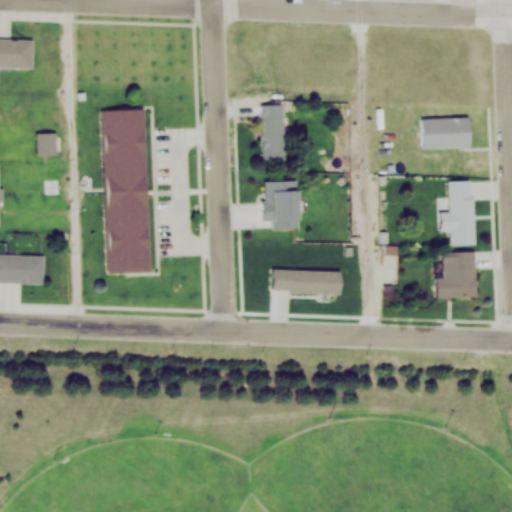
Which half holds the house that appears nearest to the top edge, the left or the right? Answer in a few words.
left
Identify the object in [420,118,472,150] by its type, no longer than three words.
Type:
house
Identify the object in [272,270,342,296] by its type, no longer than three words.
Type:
house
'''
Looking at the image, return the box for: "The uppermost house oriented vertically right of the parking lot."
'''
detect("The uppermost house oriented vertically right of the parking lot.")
[260,105,286,159]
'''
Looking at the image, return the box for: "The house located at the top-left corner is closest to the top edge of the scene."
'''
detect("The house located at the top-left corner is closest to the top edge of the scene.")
[0,39,34,69]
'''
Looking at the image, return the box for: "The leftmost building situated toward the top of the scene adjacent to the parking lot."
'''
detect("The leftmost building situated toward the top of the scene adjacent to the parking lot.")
[101,110,152,274]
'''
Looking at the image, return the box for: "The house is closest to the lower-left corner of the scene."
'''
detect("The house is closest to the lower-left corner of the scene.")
[0,256,45,286]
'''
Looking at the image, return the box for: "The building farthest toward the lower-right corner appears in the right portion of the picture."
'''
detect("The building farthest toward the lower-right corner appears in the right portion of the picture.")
[432,251,478,300]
